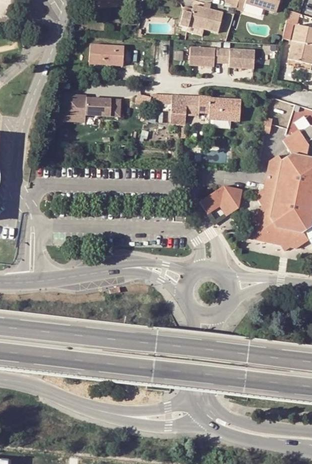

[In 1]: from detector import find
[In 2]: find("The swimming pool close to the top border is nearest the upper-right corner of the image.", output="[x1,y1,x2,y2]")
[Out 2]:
[246,21,272,37]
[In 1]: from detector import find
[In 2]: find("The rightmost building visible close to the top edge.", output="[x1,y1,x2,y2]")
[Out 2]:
[283,10,312,69]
